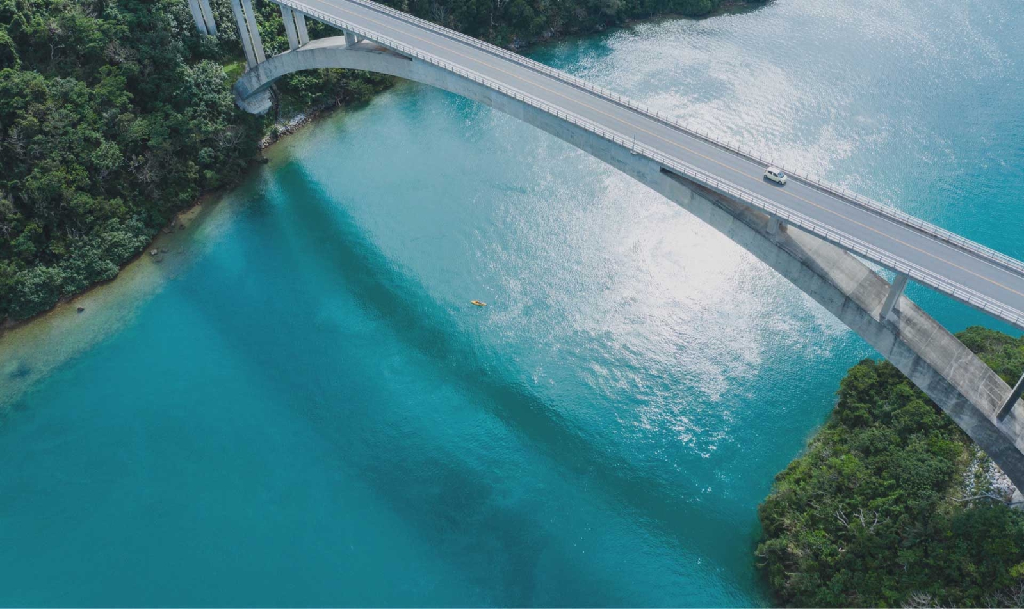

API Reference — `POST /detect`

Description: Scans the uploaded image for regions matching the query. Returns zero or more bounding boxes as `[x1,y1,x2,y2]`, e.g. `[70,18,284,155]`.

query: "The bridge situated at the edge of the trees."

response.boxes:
[154,0,1024,497]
